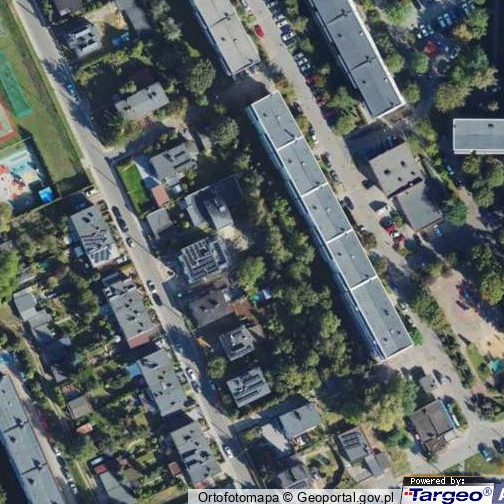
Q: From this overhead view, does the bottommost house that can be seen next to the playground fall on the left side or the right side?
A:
left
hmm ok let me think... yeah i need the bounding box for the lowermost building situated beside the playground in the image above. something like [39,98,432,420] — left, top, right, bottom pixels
[71,203,120,267]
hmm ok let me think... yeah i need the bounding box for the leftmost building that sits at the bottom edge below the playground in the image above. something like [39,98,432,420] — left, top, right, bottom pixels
[0,376,67,504]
